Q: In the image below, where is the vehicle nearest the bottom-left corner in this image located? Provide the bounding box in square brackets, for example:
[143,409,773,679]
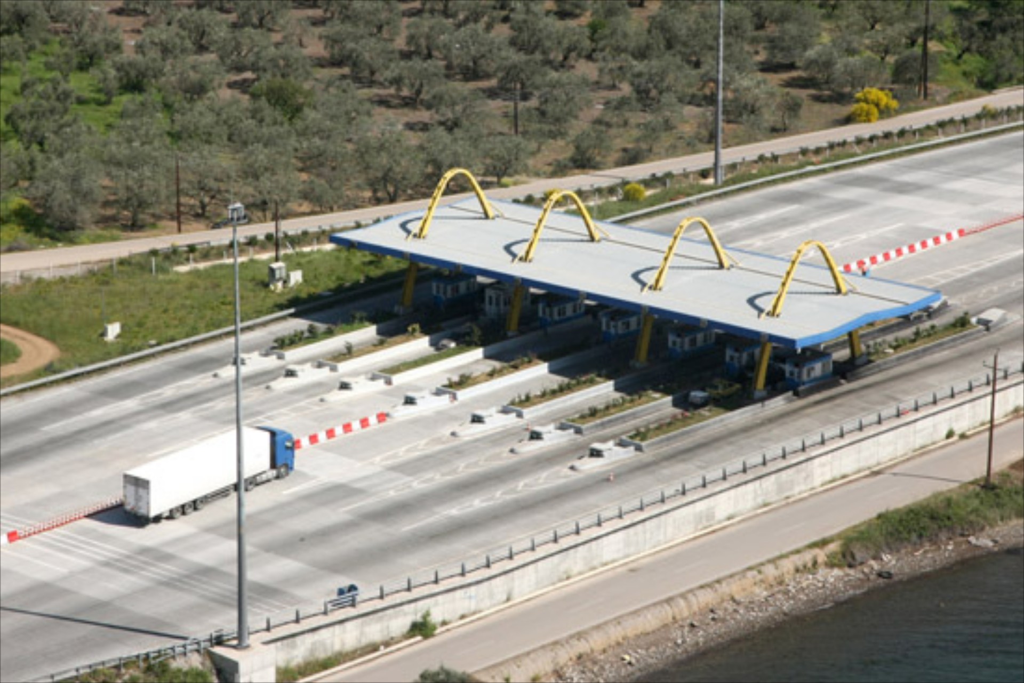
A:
[122,423,296,526]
